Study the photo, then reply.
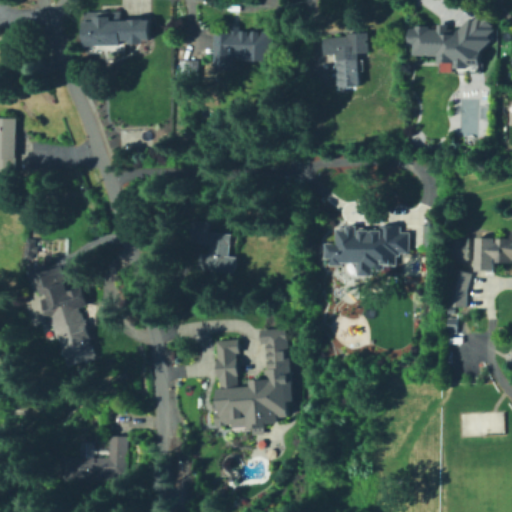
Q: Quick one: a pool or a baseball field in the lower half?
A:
pool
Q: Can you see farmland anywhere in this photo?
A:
No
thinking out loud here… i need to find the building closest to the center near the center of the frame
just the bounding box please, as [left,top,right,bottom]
[204,233,238,276]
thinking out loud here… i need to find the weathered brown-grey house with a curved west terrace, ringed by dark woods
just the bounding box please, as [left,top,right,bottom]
[36,268,94,362]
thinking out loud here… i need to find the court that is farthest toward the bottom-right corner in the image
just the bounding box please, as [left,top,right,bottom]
[461,410,506,438]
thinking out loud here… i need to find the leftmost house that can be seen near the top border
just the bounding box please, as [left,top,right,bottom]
[80,11,148,48]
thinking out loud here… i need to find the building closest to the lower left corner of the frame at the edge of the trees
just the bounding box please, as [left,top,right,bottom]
[60,436,130,486]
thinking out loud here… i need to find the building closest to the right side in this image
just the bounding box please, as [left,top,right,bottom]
[474,237,512,271]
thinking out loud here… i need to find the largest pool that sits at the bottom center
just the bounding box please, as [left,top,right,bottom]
[243,459,271,486]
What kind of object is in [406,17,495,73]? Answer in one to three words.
house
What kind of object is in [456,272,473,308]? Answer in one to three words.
building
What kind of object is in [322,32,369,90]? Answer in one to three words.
house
